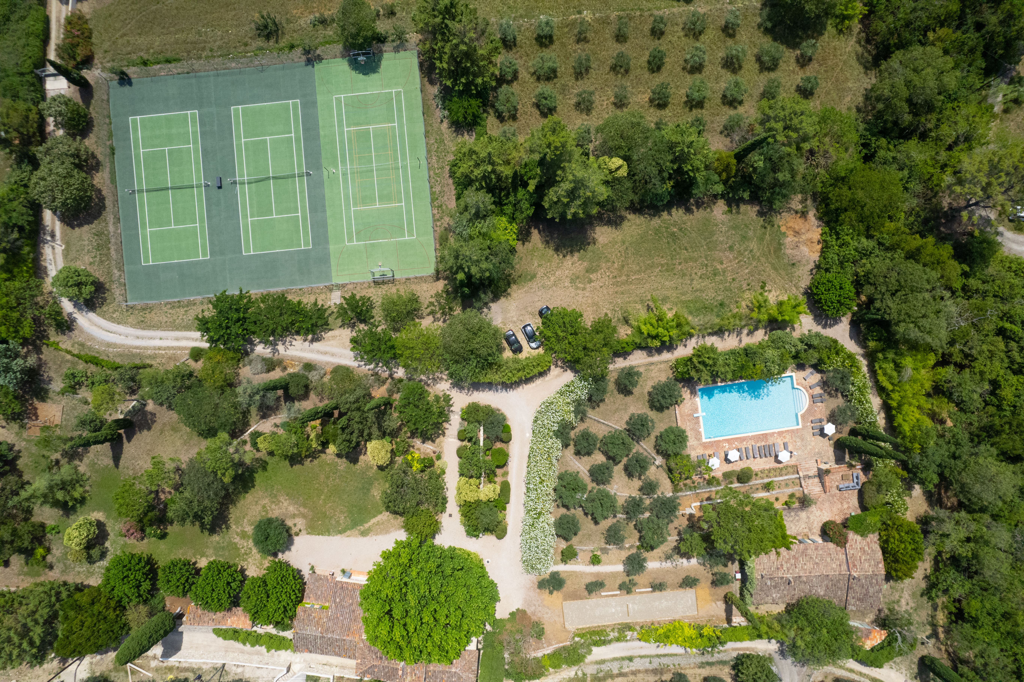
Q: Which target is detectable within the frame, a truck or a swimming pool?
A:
swimming pool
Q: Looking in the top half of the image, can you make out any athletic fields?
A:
No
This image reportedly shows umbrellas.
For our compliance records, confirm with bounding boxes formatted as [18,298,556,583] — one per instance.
[823,421,836,436]
[707,456,721,469]
[727,448,740,462]
[777,449,790,463]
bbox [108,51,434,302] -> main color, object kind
green sports court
